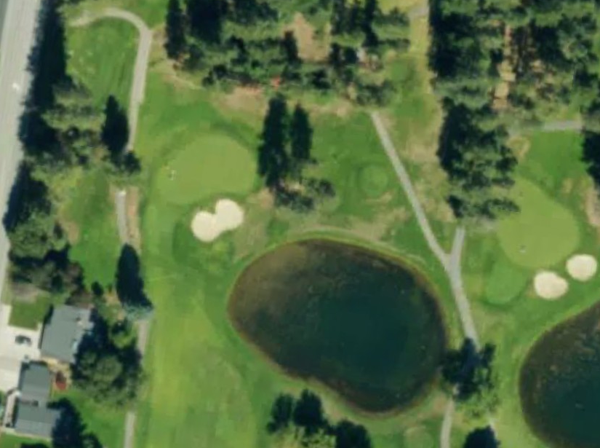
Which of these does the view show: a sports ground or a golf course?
golf course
